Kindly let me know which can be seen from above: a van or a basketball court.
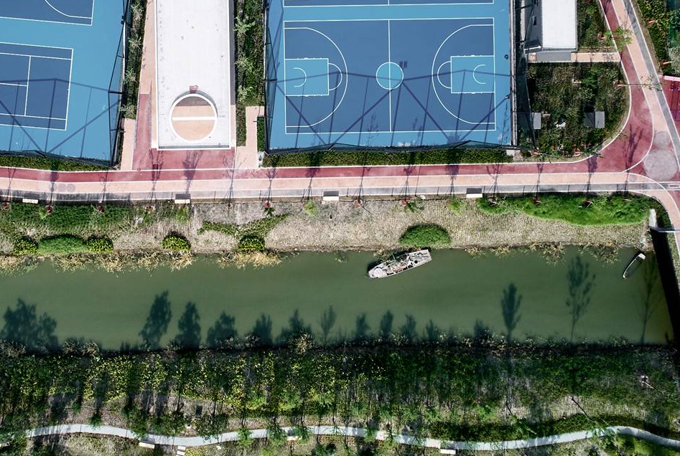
basketball court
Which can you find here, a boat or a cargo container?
boat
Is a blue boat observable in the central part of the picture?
No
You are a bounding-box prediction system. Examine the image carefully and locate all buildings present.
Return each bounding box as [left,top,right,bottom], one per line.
[514,0,579,62]
[151,0,235,150]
